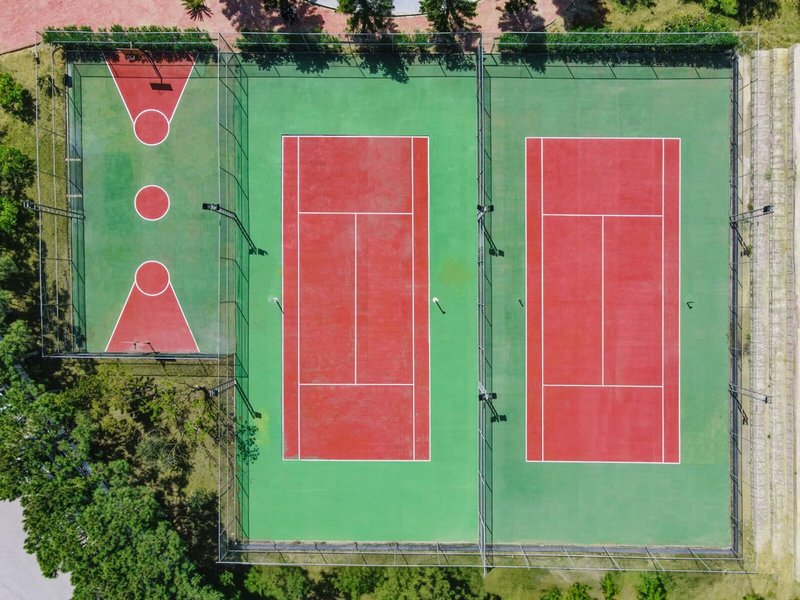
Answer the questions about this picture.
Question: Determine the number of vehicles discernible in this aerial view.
0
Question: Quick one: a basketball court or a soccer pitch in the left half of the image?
basketball court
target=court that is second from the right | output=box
[235,52,478,541]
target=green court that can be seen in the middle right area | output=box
[479,52,730,545]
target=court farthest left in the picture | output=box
[68,51,234,353]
